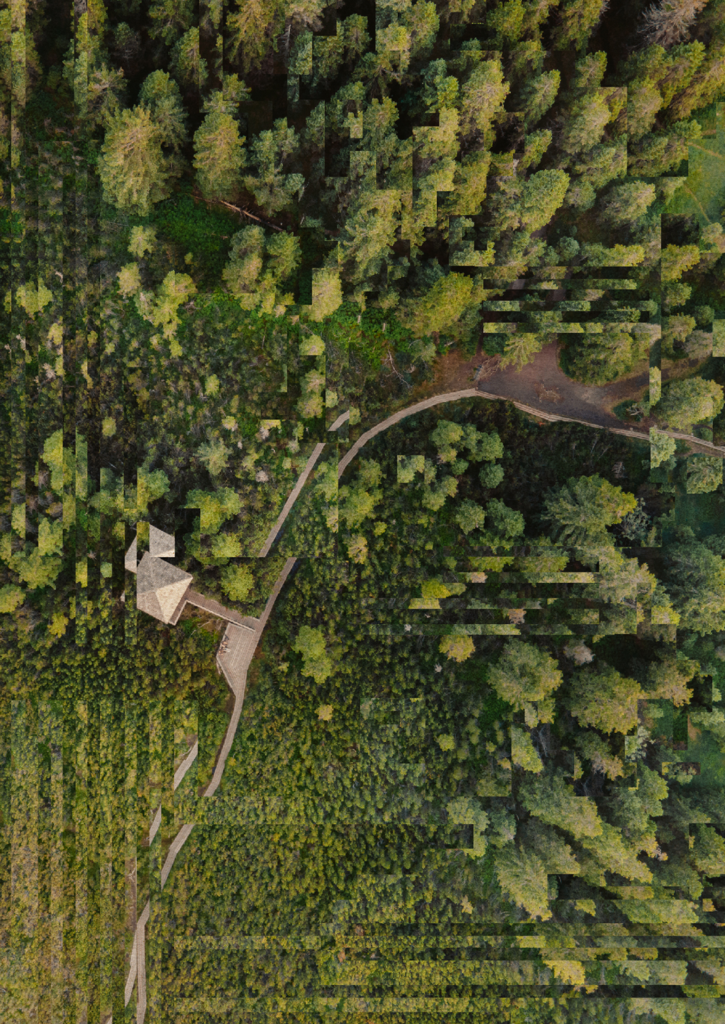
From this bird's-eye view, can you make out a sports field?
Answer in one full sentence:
No, this view has no sports field in it.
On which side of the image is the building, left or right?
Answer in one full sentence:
The building appears in the left half of the scene.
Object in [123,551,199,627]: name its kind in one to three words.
building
